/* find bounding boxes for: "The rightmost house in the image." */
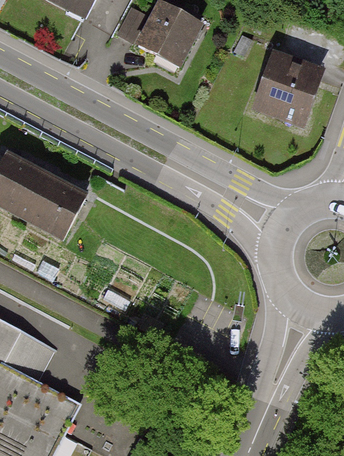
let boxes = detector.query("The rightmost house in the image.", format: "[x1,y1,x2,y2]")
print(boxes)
[253,48,326,129]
